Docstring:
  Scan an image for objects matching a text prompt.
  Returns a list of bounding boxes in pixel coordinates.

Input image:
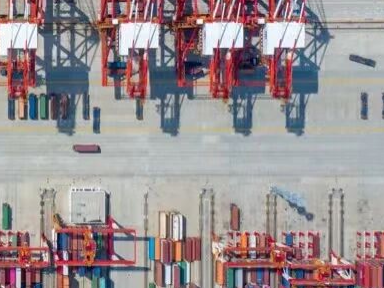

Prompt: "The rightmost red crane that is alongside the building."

[52,214,141,267]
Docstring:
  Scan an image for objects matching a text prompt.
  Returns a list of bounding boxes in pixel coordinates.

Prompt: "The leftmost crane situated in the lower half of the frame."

[0,231,51,266]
